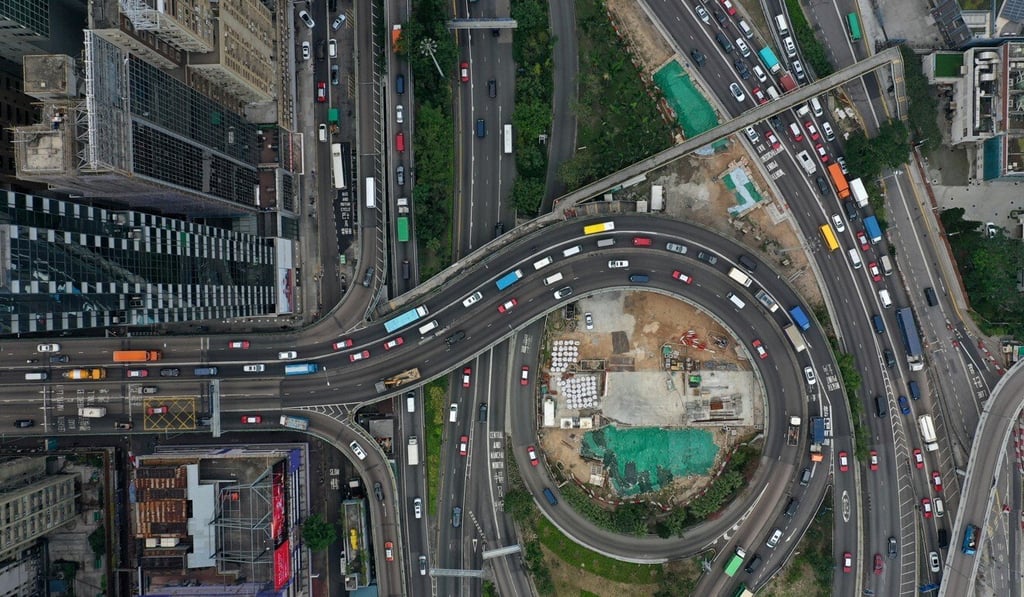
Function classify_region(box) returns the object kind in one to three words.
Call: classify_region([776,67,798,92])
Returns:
truck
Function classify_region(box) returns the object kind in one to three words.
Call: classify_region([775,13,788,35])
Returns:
vehicle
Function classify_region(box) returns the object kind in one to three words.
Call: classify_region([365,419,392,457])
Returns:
shed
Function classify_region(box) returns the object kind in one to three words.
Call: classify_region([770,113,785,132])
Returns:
car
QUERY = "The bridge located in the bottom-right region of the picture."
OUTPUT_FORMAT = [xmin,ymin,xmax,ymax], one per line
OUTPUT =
[938,362,1024,597]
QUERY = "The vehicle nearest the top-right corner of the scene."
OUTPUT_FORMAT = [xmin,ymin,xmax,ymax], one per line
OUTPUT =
[845,11,864,42]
